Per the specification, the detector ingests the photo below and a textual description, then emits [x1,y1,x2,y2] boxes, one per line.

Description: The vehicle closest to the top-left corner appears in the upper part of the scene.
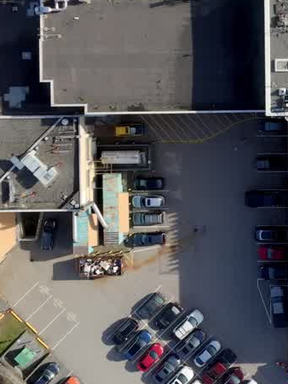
[113,124,146,139]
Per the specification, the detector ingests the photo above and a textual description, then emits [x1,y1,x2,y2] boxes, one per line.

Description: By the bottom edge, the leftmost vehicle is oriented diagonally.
[30,358,60,384]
